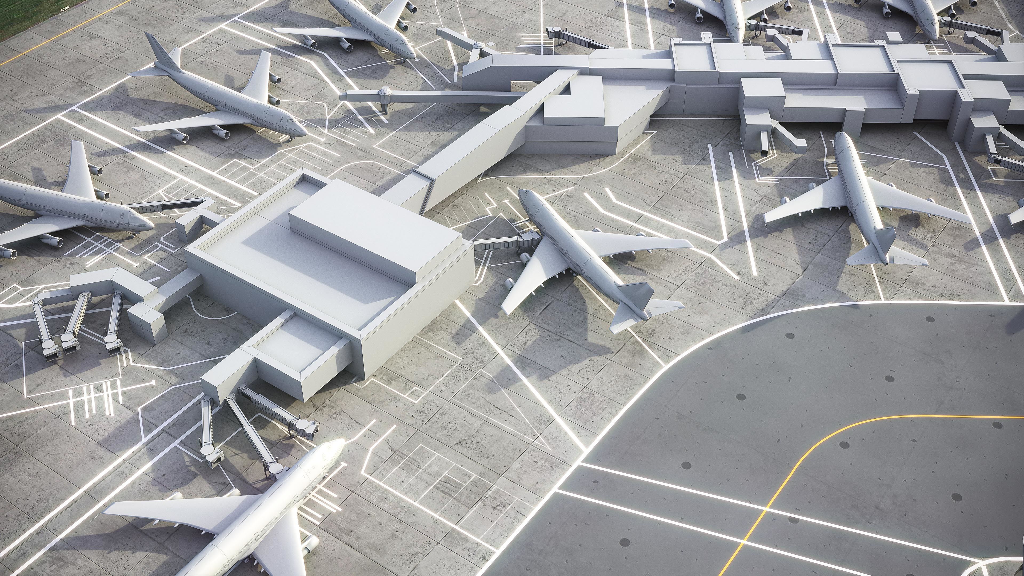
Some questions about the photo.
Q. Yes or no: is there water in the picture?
No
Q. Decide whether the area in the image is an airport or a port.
airport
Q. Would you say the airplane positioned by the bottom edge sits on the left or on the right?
left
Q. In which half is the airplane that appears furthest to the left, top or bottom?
top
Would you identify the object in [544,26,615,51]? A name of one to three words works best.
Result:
jet bridge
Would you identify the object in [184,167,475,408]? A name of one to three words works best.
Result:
building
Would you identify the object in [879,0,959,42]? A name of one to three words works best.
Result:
airplane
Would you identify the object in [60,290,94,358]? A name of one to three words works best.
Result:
jet bridge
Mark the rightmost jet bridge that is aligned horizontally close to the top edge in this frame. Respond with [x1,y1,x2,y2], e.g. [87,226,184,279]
[939,16,1010,42]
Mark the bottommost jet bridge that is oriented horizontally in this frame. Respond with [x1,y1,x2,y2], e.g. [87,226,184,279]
[469,230,543,260]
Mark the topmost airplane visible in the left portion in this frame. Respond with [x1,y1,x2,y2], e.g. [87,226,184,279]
[268,0,417,61]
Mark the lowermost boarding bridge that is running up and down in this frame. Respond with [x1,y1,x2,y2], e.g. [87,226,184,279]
[199,393,227,473]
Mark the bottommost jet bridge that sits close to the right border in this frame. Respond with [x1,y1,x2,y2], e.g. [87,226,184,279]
[986,152,1024,175]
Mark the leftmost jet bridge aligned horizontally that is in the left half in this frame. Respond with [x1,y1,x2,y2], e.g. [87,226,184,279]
[106,196,213,214]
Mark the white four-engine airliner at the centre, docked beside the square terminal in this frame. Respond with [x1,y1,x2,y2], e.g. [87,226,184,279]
[502,187,702,334]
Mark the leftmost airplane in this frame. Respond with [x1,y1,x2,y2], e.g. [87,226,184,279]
[0,138,155,259]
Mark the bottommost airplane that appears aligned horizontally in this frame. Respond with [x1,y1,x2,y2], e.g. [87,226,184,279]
[90,440,346,576]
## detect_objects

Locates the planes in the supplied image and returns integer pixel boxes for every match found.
[502,187,702,334]
[90,440,346,576]
[668,0,792,44]
[764,130,977,265]
[1008,198,1024,230]
[268,0,417,61]
[125,32,308,142]
[879,0,959,42]
[0,138,155,259]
